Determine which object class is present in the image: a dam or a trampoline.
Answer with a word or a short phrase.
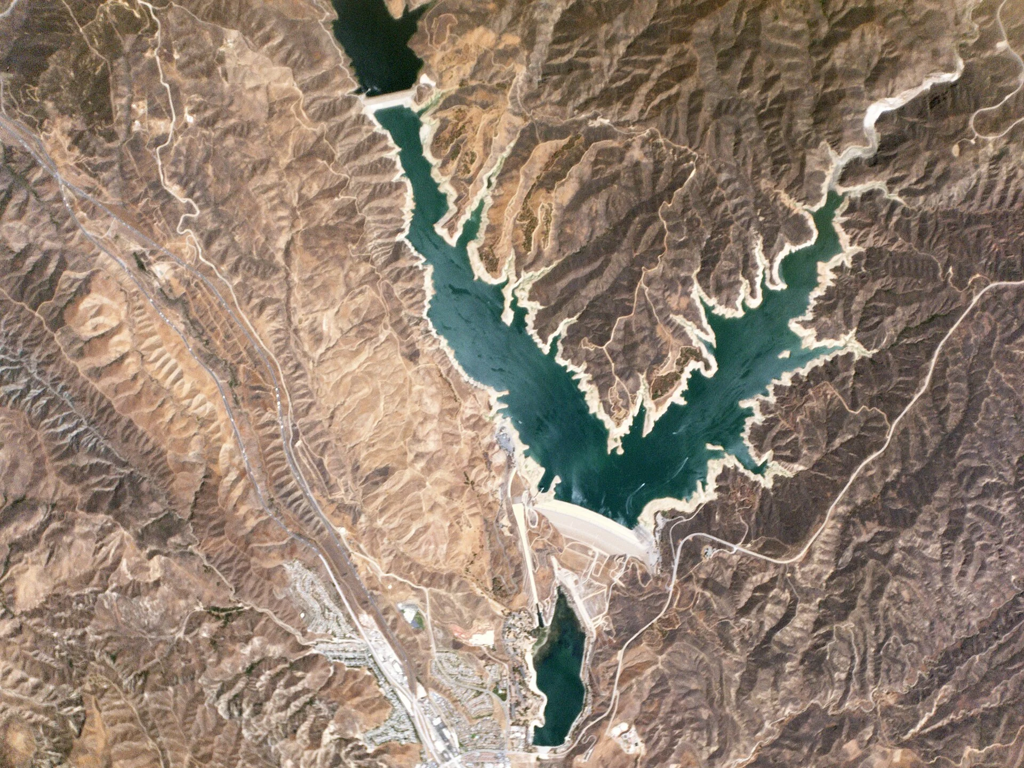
dam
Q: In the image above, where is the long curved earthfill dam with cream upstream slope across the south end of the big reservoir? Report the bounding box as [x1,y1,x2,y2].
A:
[533,500,662,577]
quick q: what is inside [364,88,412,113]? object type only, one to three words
dam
